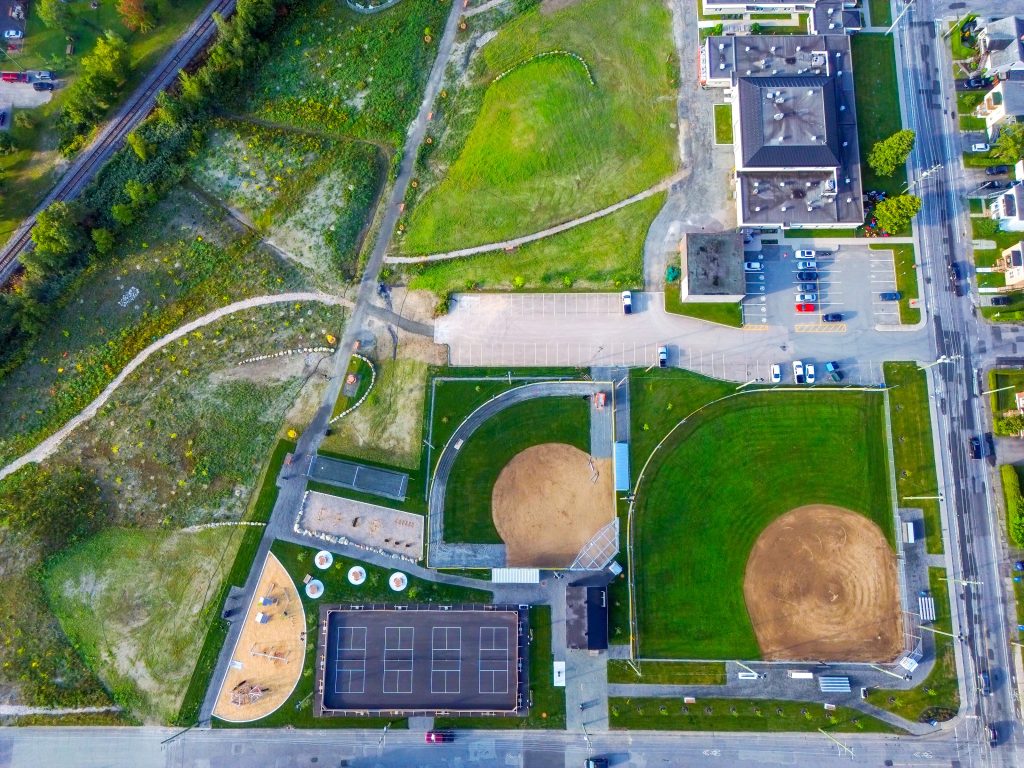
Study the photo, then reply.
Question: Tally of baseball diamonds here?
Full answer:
Looking from above, you can make out 2 baseball diamonds.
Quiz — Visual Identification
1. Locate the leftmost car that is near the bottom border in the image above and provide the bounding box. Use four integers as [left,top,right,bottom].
[426,732,449,745]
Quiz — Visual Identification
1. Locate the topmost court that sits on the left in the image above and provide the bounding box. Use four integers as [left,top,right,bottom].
[307,454,408,501]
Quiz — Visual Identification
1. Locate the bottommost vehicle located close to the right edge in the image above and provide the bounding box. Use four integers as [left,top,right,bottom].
[986,723,1002,748]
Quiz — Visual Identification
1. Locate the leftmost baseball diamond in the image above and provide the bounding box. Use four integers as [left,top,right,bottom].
[428,383,618,569]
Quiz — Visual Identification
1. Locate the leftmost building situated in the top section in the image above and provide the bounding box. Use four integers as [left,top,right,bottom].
[681,233,746,301]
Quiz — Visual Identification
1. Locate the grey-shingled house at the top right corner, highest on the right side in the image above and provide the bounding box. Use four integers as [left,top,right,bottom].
[956,14,1024,77]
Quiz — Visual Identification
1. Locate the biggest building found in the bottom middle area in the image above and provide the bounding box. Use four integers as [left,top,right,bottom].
[566,587,609,657]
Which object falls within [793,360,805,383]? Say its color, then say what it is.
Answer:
white vehicle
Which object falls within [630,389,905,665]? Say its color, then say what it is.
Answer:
green baseball field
